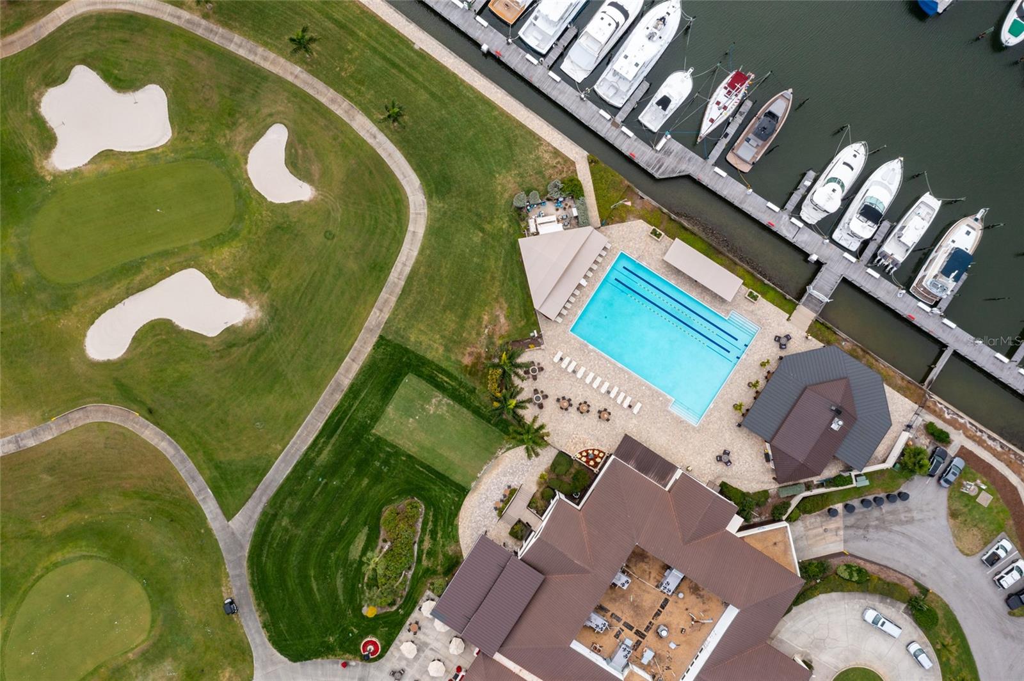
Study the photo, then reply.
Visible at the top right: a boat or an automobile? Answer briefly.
boat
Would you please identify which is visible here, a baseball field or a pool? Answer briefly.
pool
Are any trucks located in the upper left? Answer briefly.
No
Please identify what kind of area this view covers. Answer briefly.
golf course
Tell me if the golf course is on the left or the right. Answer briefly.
left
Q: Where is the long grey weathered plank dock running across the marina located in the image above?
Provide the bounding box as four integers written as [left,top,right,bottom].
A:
[422,0,1024,396]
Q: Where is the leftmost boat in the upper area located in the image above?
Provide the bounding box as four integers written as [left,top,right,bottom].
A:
[490,0,531,26]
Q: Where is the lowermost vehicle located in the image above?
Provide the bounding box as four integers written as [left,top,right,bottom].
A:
[904,638,935,673]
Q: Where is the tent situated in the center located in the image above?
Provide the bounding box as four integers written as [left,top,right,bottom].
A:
[518,226,609,321]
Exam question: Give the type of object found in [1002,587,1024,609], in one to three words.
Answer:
truck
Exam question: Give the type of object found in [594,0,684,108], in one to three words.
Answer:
boat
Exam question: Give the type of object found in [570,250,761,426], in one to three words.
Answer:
swimming pool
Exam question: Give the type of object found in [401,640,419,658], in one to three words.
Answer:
umbrella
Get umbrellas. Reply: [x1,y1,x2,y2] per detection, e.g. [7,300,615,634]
[428,658,445,676]
[421,598,437,616]
[434,618,449,631]
[448,636,466,653]
[401,640,419,658]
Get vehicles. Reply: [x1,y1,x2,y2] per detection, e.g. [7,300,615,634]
[222,597,239,617]
[927,444,950,479]
[936,454,966,489]
[1002,587,1024,609]
[976,535,1013,570]
[858,606,903,638]
[904,638,935,673]
[991,557,1024,588]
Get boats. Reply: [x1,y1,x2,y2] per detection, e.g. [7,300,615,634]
[999,0,1024,47]
[559,0,644,85]
[834,153,908,252]
[797,139,871,226]
[594,0,684,108]
[490,0,531,26]
[697,69,752,143]
[639,64,695,133]
[907,202,996,305]
[875,190,945,268]
[729,88,794,172]
[520,0,585,55]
